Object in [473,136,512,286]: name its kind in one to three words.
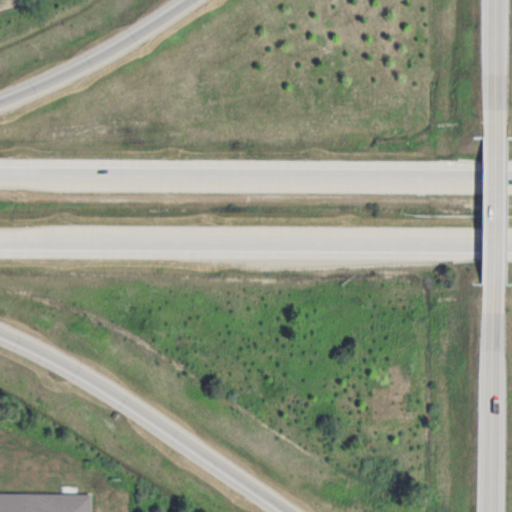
overpass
